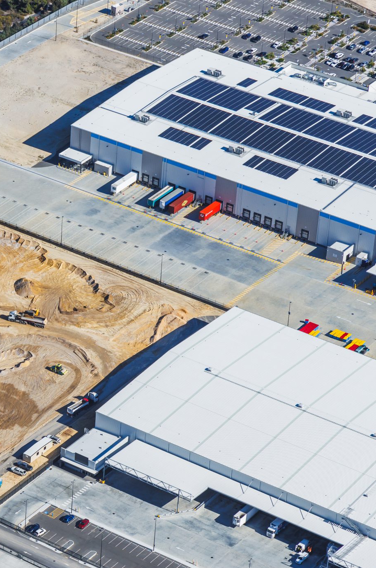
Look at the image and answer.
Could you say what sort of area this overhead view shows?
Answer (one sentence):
The area seen from above is an industrial area.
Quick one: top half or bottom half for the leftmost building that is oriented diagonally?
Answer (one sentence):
The bottom half of the photo is where the leftmost building that is oriented diagonally is.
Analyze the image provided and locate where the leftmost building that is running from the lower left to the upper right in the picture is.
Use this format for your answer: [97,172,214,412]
[24,437,52,463]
